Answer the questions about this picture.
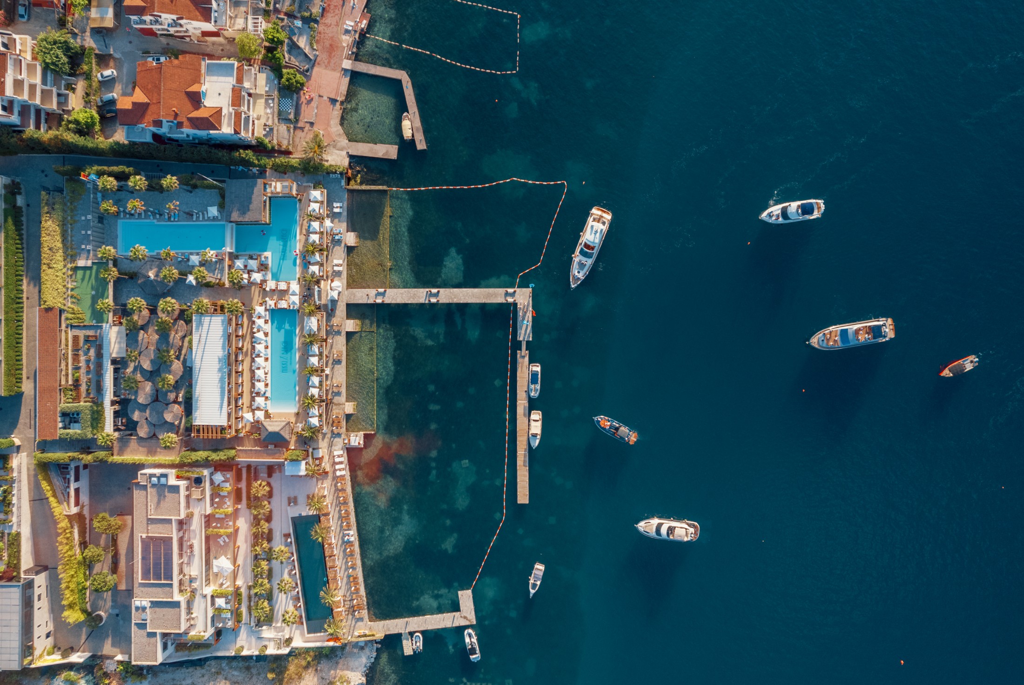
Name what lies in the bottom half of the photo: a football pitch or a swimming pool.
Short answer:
swimming pool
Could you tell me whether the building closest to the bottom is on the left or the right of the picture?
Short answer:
left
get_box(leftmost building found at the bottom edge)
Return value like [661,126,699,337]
[0,567,54,670]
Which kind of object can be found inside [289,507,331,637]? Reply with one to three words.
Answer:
swimming pool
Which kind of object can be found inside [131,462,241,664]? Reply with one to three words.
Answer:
building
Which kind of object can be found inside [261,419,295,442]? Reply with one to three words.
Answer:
shed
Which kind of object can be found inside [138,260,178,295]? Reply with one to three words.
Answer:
gazebo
